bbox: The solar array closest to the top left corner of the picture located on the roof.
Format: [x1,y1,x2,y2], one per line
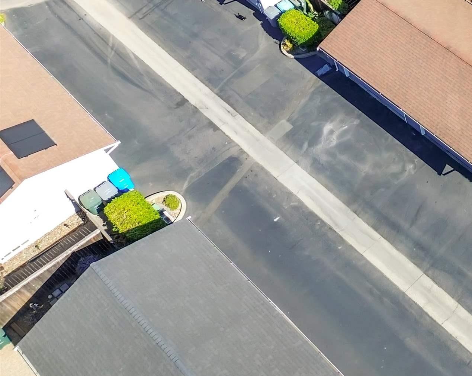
[0,114,55,155]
